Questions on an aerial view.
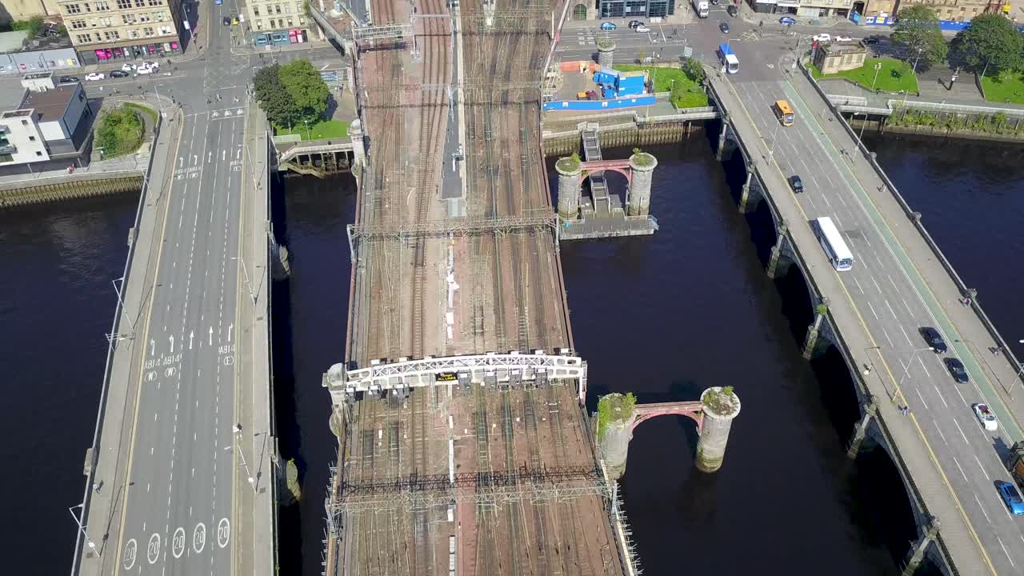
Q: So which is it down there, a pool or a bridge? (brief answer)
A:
bridge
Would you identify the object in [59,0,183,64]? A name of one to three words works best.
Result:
building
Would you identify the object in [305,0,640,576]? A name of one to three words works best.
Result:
bridge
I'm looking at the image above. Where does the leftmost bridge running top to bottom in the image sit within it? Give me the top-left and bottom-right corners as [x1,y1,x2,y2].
[70,96,300,576]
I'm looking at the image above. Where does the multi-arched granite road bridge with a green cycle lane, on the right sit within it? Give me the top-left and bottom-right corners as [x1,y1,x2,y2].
[702,72,1024,576]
